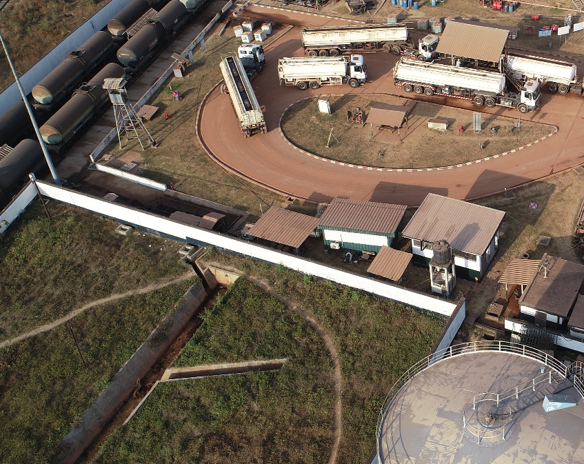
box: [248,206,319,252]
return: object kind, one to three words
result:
shed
